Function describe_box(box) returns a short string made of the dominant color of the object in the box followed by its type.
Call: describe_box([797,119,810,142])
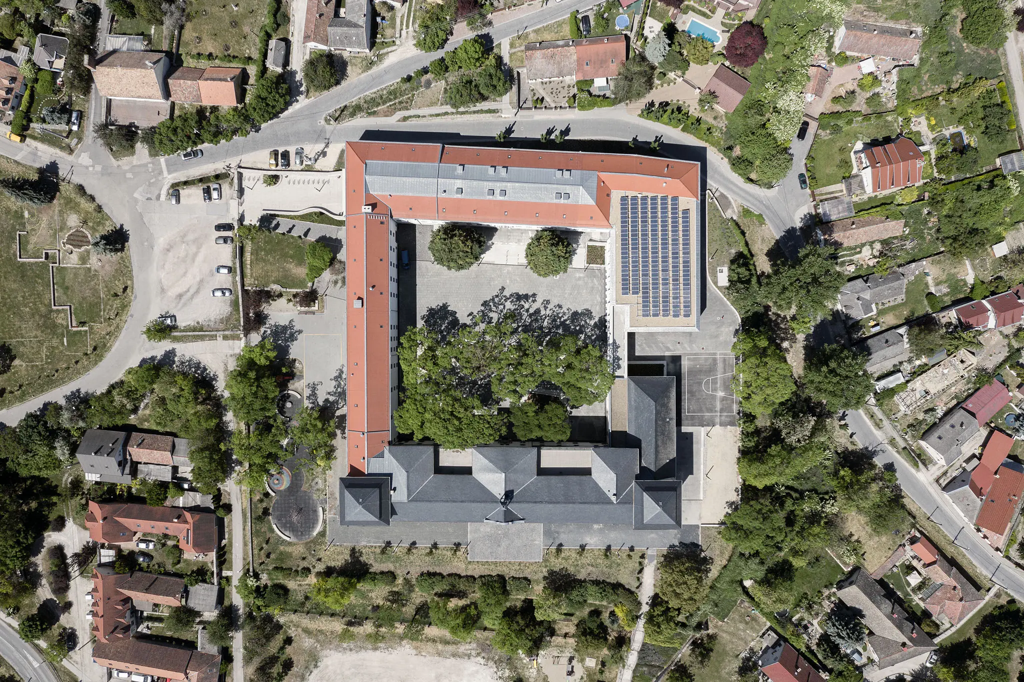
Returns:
black vehicle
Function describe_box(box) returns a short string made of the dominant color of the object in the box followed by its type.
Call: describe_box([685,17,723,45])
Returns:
blue swimming pool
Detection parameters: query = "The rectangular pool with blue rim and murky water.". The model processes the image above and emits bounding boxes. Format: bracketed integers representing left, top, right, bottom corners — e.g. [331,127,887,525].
[949,129,969,149]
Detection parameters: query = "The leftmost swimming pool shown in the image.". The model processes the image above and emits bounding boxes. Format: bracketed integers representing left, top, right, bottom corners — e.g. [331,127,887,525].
[615,12,630,29]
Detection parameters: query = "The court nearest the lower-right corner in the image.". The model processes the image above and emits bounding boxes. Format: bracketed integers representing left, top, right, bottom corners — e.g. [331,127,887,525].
[627,352,740,427]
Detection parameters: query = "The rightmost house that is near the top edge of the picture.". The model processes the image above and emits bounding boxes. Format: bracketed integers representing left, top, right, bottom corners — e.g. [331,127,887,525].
[833,21,923,64]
